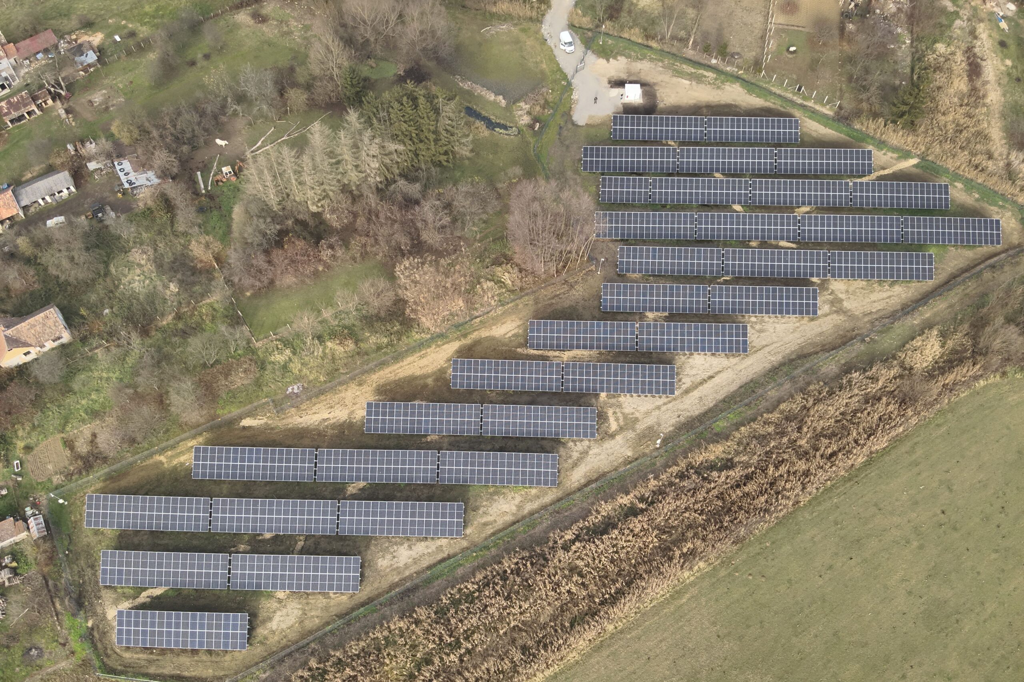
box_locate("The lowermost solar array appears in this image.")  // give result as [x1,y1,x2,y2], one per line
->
[113,610,250,651]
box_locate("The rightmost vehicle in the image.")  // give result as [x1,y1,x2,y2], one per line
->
[562,30,577,52]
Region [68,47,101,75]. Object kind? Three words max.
shed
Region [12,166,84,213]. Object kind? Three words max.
barn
